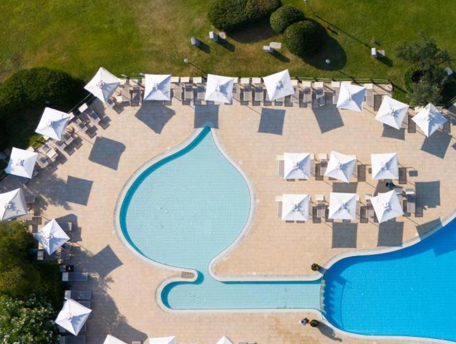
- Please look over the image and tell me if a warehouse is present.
No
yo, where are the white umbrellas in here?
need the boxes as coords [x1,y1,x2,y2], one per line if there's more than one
[370,189,404,223]
[104,335,128,344]
[371,152,399,180]
[85,67,123,104]
[215,334,236,344]
[144,75,173,102]
[262,69,295,103]
[206,75,235,104]
[57,298,95,334]
[324,150,358,184]
[330,193,357,220]
[375,95,410,130]
[7,147,43,180]
[282,194,309,221]
[411,105,448,139]
[284,153,311,180]
[34,218,73,256]
[150,336,178,344]
[38,108,75,142]
[335,81,368,114]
